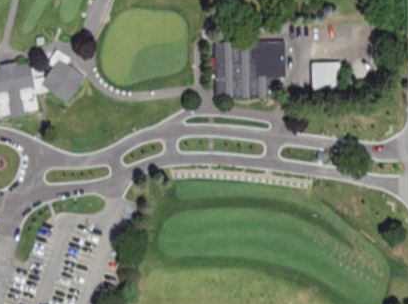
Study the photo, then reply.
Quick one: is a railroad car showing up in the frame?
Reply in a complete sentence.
No, no railroad car is visible in the scene.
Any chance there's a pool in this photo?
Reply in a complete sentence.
No, no pool is visible in the scene.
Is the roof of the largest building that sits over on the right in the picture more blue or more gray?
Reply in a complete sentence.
The color of the roof of the largest building that sits over on the right is gray.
